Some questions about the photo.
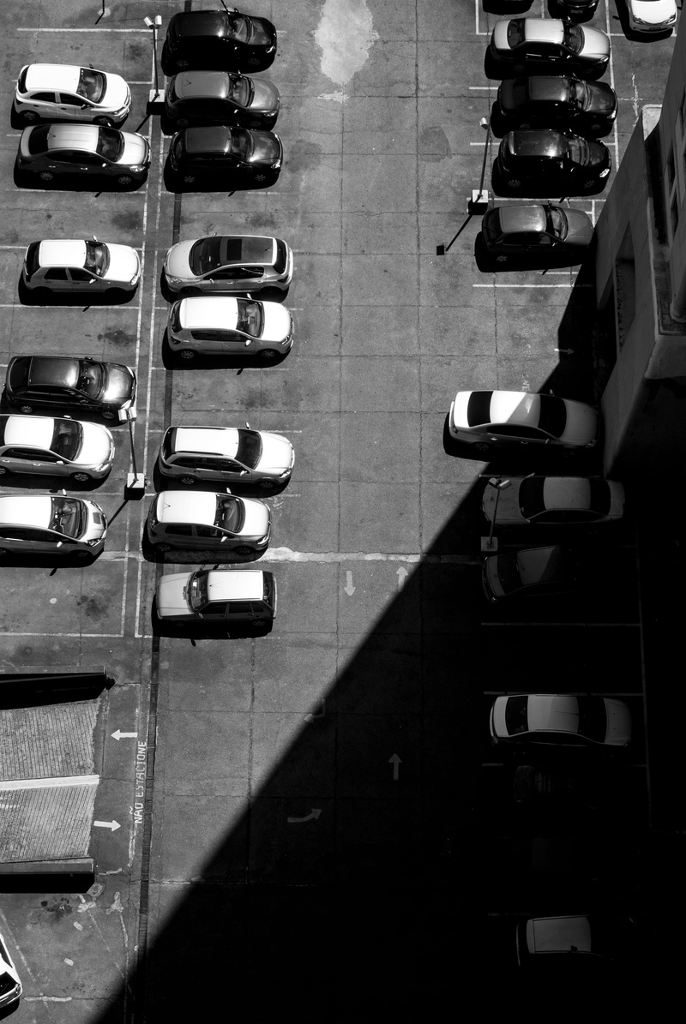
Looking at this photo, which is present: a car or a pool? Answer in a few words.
car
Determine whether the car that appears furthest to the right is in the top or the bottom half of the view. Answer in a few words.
top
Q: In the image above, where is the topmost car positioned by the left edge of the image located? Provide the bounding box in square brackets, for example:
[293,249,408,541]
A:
[16,64,133,125]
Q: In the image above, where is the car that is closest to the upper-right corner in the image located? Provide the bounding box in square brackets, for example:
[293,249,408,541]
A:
[626,0,677,29]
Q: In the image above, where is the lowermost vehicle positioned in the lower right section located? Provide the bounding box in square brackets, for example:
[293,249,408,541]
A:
[516,911,652,981]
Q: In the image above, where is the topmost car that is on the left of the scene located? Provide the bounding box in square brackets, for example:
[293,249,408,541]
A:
[166,0,278,68]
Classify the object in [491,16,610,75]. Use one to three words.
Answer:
car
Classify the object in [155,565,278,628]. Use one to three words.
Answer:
car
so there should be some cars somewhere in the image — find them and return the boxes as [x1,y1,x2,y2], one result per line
[500,72,617,132]
[0,492,109,558]
[449,390,601,460]
[170,123,283,183]
[155,565,278,628]
[166,0,278,68]
[485,469,625,536]
[491,16,610,75]
[475,544,601,612]
[16,64,133,125]
[8,354,138,419]
[500,754,635,822]
[166,68,281,129]
[170,294,293,359]
[162,425,296,489]
[165,233,293,298]
[19,124,153,185]
[0,415,116,481]
[516,911,652,981]
[498,129,611,189]
[24,237,143,298]
[490,692,631,759]
[626,0,677,29]
[0,907,23,1012]
[480,196,592,259]
[149,490,272,554]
